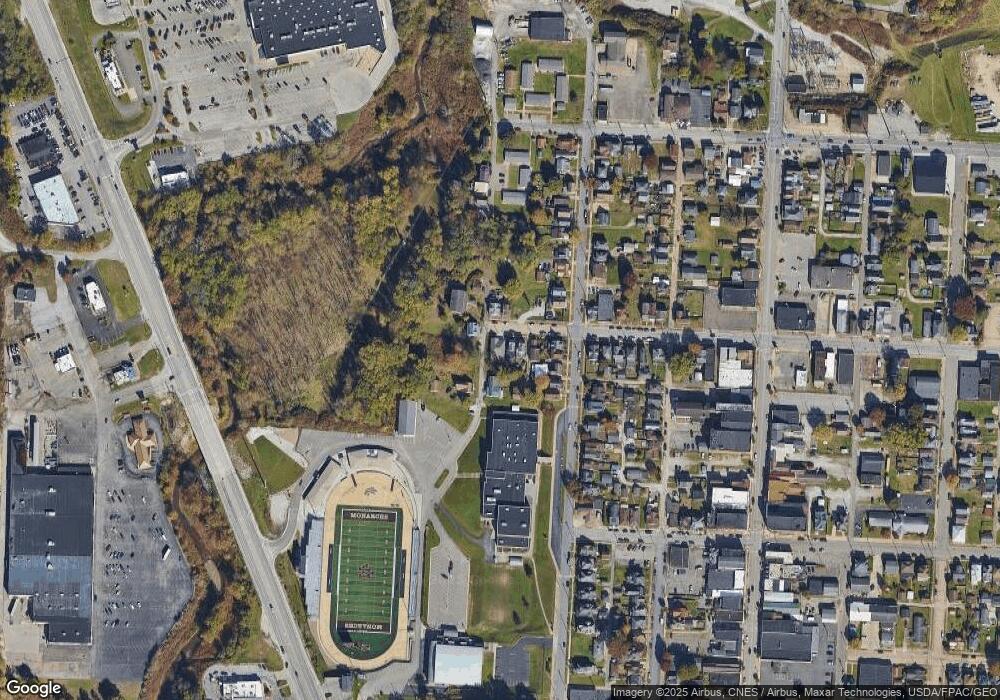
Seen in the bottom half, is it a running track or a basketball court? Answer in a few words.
running track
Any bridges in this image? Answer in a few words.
No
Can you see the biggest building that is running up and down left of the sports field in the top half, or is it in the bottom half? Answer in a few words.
bottom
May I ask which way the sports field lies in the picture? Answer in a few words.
vertically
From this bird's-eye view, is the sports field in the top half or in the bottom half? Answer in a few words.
bottom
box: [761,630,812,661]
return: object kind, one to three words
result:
building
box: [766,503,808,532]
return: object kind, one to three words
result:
building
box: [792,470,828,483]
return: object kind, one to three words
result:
house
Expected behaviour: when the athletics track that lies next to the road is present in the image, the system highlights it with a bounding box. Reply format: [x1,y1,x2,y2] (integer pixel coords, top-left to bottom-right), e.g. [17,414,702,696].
[319,472,414,670]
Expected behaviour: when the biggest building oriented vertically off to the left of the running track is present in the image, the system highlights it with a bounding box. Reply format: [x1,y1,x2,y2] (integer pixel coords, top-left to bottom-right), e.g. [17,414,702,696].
[7,431,94,643]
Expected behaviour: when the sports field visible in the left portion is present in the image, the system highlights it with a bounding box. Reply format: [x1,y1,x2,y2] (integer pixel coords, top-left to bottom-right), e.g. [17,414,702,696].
[328,505,404,658]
